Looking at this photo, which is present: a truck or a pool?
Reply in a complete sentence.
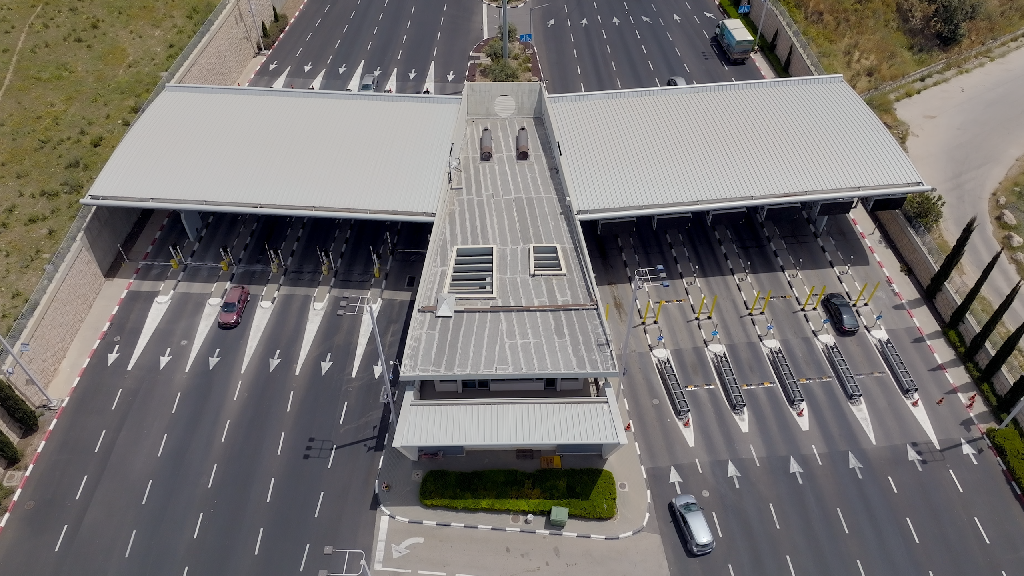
The image shows a truck.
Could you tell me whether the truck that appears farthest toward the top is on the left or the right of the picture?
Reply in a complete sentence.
The truck that appears farthest toward the top sits on the right side.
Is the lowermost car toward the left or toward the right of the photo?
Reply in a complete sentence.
The lowermost car appears in the right half of the scene.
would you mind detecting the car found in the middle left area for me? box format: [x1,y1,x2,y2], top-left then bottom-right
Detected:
[221,283,254,329]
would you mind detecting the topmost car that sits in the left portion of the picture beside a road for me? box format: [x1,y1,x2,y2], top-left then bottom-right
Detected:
[359,74,377,91]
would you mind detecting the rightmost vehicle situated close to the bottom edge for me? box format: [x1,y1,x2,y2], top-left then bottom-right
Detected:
[675,493,716,557]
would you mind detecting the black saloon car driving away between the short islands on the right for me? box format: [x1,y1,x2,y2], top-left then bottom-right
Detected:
[824,295,864,338]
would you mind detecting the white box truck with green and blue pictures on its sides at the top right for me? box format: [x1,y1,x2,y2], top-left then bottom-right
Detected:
[715,17,755,62]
